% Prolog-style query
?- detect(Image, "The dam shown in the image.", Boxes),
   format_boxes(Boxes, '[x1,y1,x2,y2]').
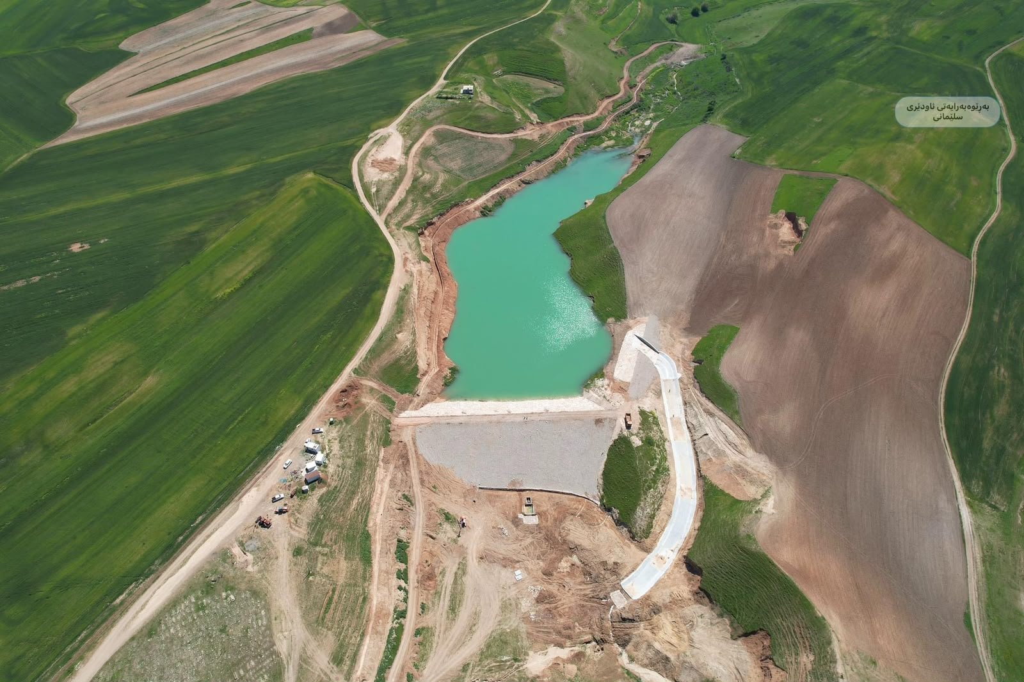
[393,397,622,505]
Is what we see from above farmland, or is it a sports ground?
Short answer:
farmland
